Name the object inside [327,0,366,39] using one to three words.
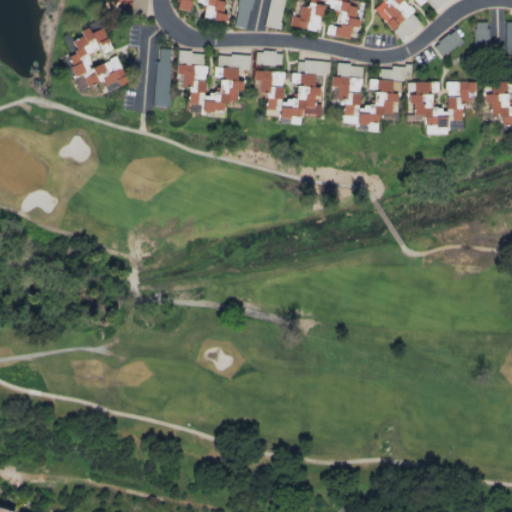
house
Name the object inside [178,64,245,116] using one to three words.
house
